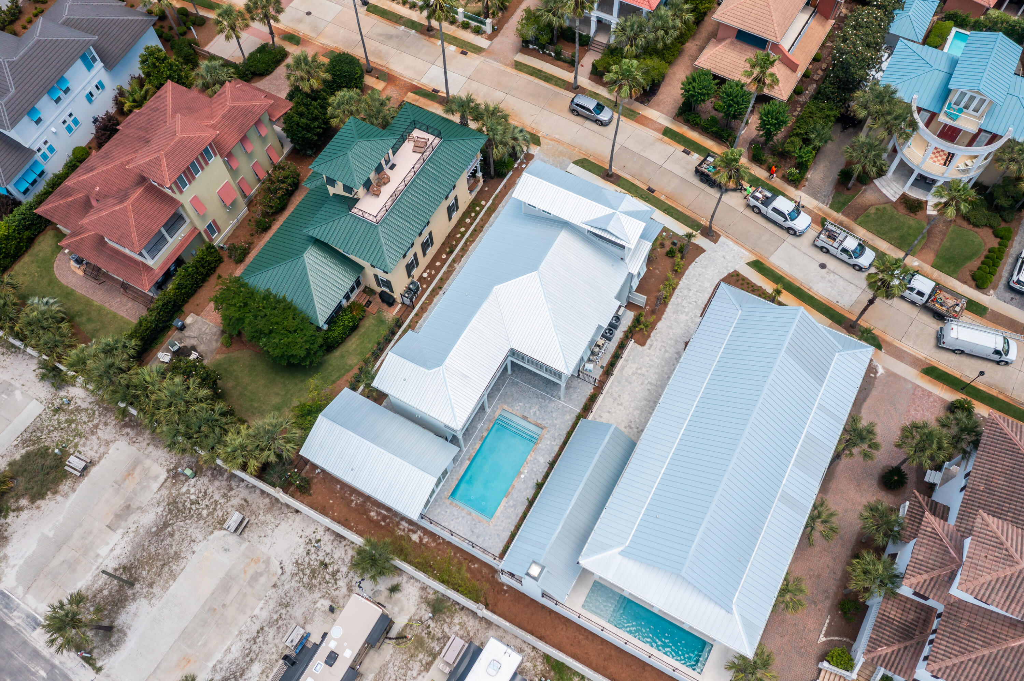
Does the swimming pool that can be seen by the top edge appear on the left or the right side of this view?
right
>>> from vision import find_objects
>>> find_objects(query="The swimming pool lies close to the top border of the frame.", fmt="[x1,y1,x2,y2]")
[943,30,968,56]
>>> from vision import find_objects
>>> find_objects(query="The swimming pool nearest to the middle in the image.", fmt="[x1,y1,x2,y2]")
[443,404,548,527]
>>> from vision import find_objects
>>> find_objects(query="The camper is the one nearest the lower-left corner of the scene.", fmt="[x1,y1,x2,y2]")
[283,594,390,681]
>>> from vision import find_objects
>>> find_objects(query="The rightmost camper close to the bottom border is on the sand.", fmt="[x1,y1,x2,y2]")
[446,637,523,681]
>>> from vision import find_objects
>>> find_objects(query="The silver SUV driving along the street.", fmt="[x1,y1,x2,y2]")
[568,91,616,126]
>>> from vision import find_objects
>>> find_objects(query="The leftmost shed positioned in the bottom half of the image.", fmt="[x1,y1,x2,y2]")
[298,387,462,528]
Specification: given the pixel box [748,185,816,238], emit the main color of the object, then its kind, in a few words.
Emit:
white truck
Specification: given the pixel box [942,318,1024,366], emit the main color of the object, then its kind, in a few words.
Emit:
white van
